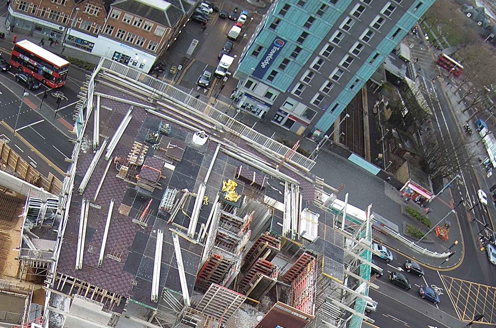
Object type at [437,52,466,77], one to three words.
bus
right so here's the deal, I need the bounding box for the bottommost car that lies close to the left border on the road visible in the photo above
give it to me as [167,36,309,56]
[15,72,42,88]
